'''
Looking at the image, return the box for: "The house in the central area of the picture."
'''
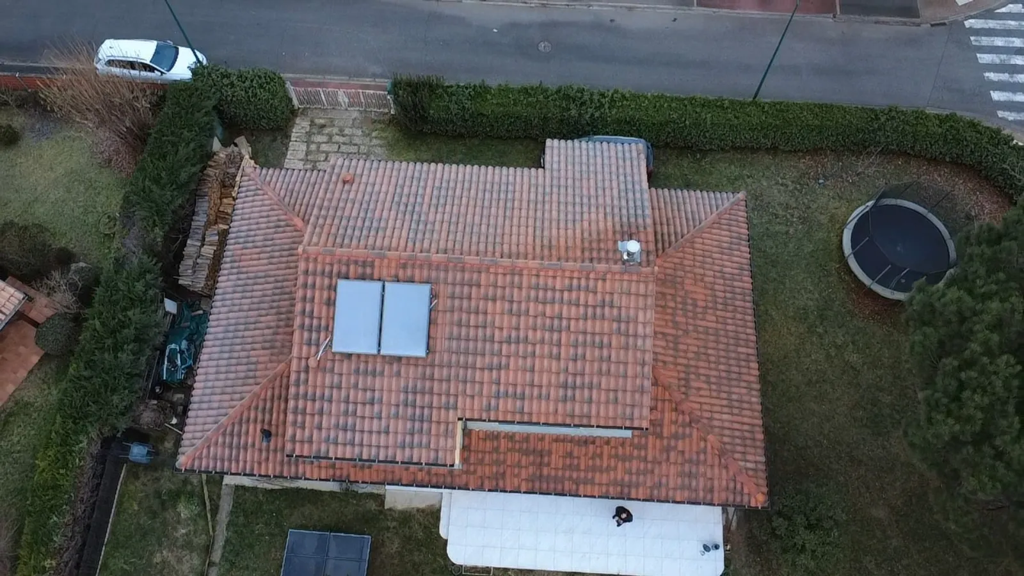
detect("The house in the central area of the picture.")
[170,136,773,526]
